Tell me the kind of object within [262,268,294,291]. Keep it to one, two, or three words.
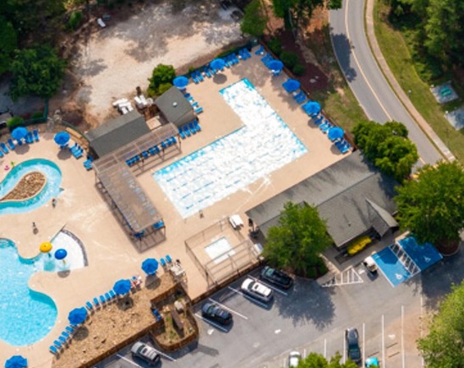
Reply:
car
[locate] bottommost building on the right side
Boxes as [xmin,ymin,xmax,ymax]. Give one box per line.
[246,154,404,251]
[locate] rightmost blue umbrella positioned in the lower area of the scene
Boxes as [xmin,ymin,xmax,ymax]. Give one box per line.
[140,259,161,278]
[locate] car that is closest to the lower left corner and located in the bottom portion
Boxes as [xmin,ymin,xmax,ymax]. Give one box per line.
[130,343,162,367]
